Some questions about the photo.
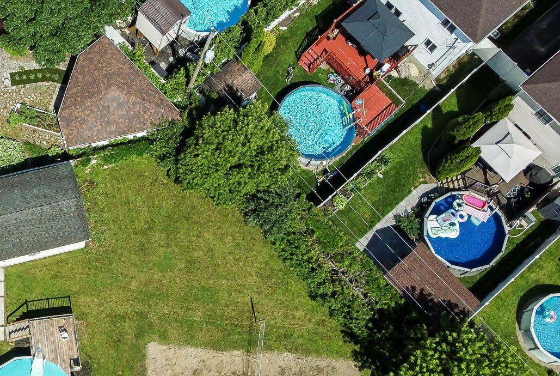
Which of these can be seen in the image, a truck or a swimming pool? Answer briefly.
swimming pool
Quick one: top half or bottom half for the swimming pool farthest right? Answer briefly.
bottom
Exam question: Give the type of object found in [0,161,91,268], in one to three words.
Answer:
shed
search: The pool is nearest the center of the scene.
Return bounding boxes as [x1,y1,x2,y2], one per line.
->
[274,86,357,167]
